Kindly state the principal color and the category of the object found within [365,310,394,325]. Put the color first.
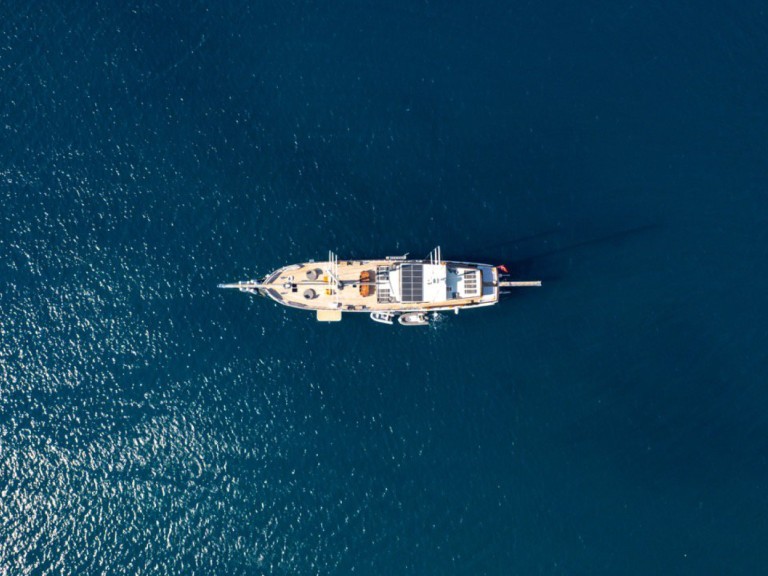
white boat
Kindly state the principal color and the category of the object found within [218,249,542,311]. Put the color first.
white ship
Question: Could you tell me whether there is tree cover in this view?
No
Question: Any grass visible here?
No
